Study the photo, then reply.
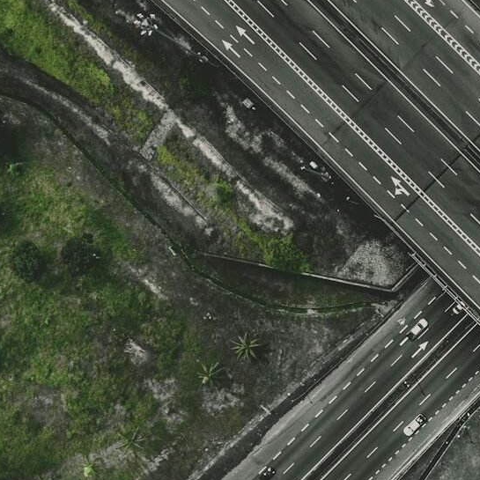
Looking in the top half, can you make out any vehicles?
No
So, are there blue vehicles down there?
No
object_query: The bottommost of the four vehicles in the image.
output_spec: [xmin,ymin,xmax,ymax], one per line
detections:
[255,464,276,480]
